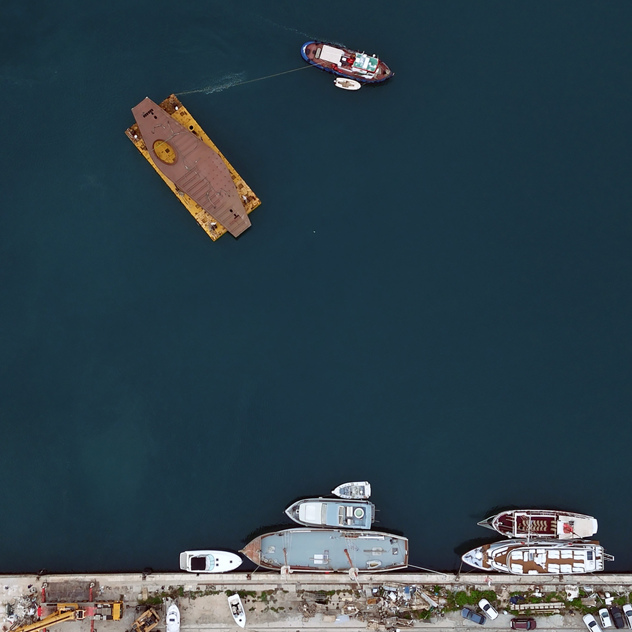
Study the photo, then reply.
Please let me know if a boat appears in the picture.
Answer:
Yes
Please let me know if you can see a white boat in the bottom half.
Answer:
Yes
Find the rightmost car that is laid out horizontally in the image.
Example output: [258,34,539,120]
[511,618,537,631]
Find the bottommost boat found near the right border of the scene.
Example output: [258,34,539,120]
[462,537,614,575]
